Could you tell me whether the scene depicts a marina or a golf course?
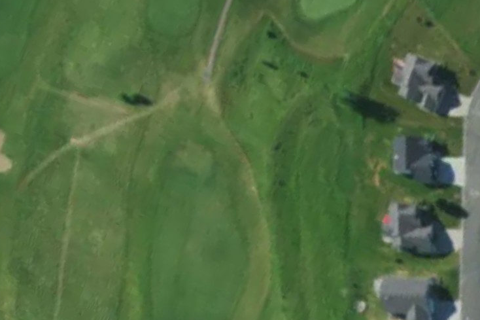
golf course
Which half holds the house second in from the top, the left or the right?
right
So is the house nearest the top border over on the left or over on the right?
right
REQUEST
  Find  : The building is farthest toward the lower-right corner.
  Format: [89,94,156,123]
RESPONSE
[379,278,433,320]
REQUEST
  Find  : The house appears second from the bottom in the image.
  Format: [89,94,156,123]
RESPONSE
[388,201,436,257]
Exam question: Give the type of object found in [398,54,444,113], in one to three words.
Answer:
house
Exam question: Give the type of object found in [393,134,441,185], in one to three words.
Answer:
house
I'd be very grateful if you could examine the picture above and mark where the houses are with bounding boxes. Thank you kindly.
[393,134,441,185]
[379,278,433,320]
[388,201,436,257]
[398,54,444,113]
